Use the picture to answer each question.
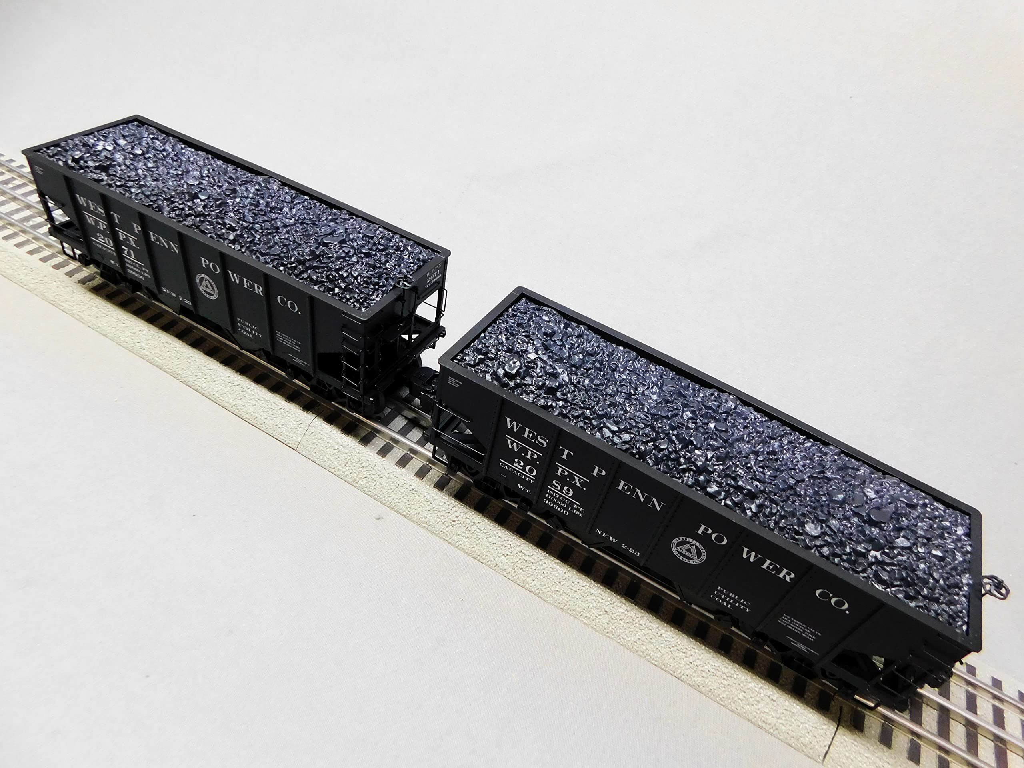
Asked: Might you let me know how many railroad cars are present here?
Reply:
2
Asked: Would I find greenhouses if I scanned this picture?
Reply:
No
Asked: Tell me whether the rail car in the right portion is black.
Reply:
Yes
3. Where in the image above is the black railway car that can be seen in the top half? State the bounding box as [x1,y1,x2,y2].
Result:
[22,114,449,421]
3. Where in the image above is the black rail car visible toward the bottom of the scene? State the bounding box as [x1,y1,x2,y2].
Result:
[419,289,1011,716]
